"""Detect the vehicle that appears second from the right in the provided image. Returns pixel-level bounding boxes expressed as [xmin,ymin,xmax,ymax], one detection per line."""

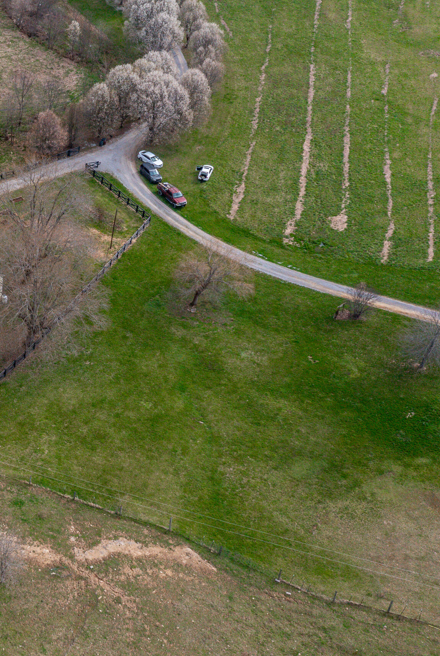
[157,184,189,209]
